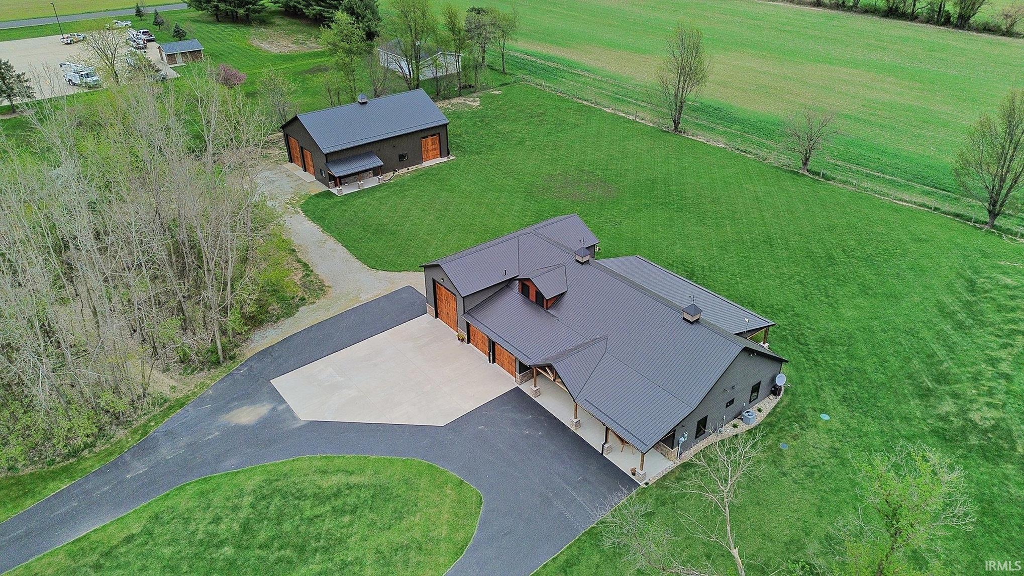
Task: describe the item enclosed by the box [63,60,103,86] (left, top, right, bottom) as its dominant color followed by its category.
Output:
white truck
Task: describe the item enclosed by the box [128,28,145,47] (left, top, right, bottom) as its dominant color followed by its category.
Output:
white vehicle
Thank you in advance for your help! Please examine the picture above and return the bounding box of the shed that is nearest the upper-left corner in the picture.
[158,40,204,64]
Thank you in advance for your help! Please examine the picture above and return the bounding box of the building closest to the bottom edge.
[419,214,789,484]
